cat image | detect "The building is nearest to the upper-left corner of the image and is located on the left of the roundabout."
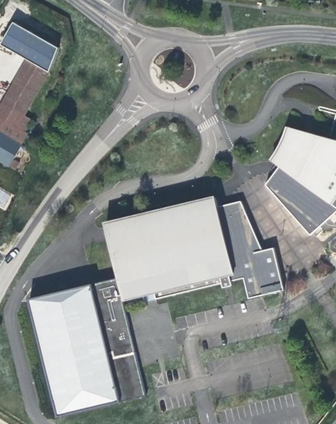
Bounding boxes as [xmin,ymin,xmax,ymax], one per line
[2,24,60,71]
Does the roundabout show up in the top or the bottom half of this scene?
top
